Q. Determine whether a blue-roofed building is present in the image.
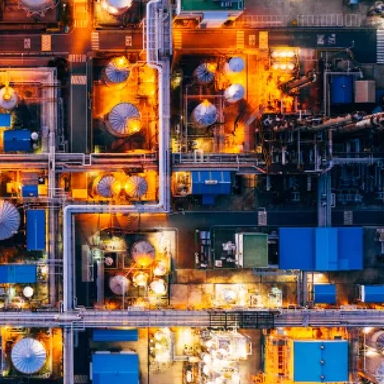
Yes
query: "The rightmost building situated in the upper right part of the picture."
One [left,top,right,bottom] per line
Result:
[347,80,375,104]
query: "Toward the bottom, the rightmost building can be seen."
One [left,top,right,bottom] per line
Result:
[357,283,384,302]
